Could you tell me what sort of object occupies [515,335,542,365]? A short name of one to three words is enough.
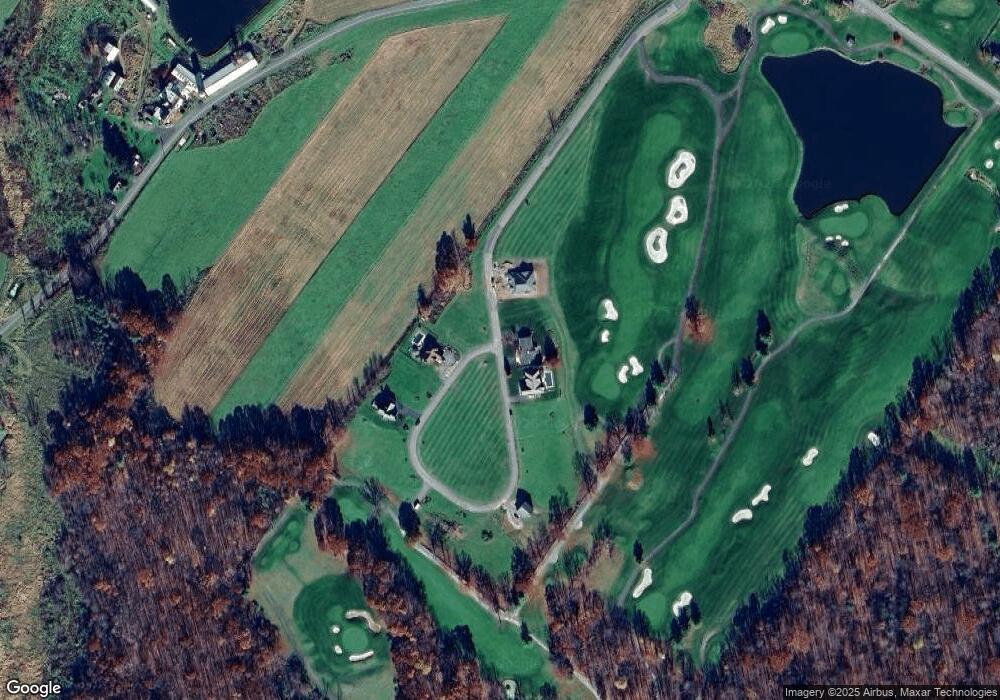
house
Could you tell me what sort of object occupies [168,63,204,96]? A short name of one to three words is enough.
barn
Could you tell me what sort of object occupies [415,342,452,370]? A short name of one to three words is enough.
house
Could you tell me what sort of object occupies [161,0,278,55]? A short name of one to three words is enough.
pond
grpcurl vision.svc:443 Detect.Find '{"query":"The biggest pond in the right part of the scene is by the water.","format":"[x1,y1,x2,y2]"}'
[761,50,967,219]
